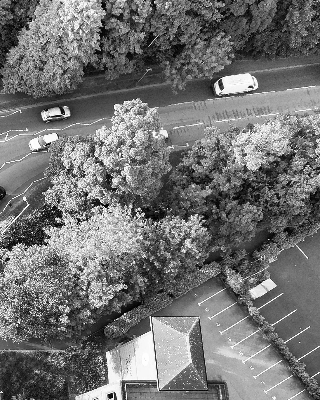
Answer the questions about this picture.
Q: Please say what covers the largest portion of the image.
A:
trees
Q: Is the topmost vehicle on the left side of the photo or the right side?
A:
right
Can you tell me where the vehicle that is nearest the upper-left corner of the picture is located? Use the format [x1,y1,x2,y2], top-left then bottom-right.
[40,104,72,125]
